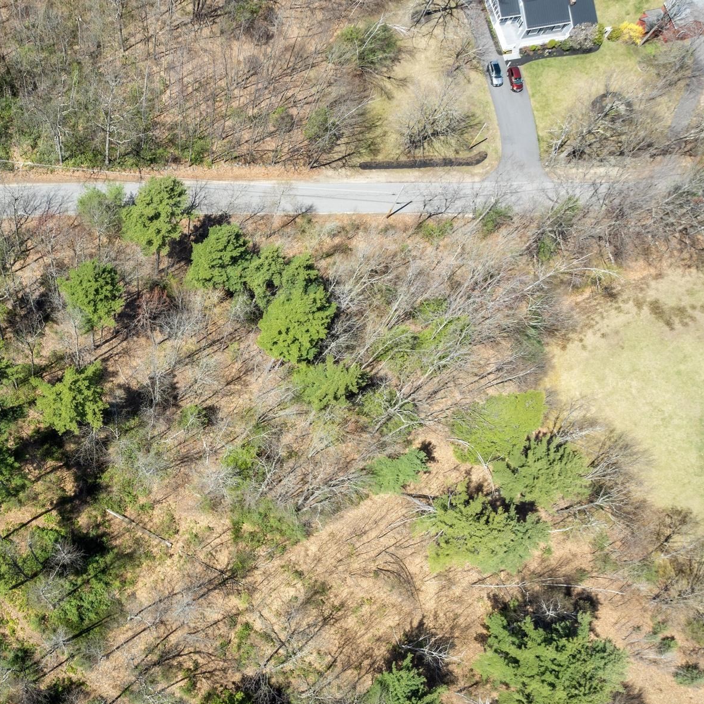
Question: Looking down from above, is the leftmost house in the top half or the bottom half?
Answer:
top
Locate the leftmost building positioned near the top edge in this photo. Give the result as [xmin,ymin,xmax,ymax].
[470,0,595,70]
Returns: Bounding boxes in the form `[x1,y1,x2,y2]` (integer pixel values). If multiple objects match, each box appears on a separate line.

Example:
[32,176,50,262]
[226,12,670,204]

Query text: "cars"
[488,59,507,86]
[509,64,527,91]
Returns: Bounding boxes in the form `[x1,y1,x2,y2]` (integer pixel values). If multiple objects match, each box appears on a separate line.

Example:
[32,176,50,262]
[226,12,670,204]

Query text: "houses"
[627,0,704,52]
[470,0,595,70]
